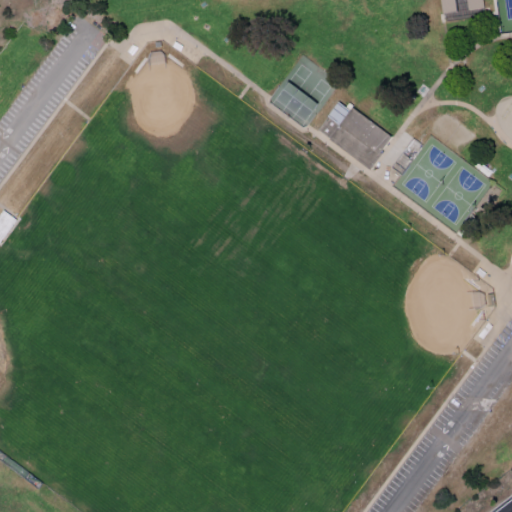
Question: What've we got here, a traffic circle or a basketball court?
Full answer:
Of the two, only a basketball court appears.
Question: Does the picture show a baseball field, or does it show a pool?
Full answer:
There is a baseball field in the scene.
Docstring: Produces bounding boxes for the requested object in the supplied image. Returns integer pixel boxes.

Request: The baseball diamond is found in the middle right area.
[406,254,488,354]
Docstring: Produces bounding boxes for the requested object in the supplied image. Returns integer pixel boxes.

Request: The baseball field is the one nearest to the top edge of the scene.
[127,51,195,137]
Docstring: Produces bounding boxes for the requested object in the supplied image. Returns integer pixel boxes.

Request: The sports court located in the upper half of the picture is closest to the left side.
[271,56,335,126]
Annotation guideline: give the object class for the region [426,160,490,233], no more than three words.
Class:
basketball court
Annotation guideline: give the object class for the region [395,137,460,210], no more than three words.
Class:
basketball court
